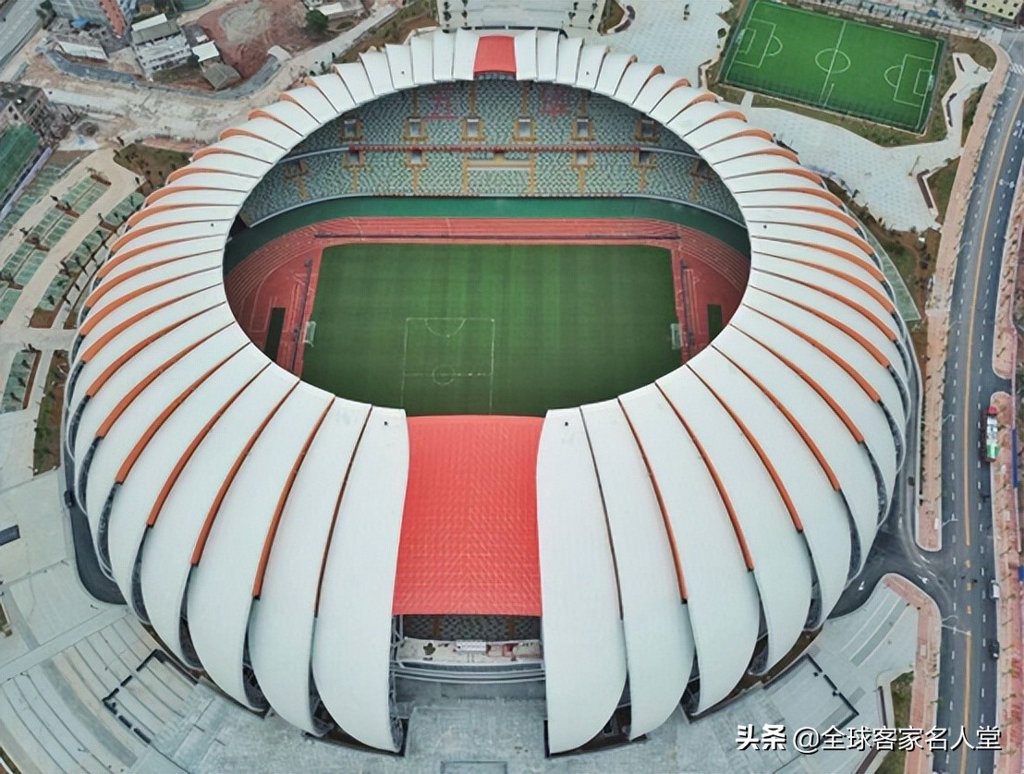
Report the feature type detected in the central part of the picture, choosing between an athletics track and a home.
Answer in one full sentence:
There is an athletics track in the central part of the picture.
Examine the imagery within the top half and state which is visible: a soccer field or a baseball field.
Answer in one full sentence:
The feature located within the top half is a soccer field.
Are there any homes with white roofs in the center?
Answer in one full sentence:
No, no home with a white roof is visible in the center.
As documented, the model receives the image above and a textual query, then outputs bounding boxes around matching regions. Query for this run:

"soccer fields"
[298,242,696,450]
[713,0,947,132]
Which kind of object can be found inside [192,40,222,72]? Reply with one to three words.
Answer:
house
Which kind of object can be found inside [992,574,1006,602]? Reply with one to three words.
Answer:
vehicle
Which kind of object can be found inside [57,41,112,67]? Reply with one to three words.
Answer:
shed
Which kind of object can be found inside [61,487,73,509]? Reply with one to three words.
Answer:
vehicle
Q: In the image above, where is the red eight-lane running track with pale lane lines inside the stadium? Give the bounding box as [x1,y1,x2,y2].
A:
[152,202,838,477]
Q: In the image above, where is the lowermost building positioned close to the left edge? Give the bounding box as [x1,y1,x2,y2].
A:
[0,81,52,143]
